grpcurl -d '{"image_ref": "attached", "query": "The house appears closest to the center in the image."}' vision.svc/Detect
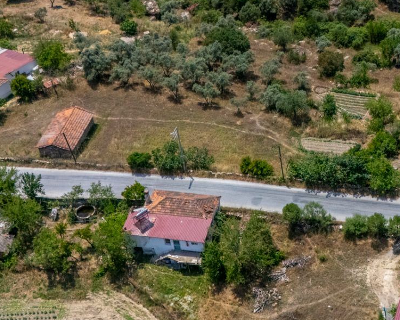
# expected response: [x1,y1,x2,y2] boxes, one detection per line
[124,184,228,274]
